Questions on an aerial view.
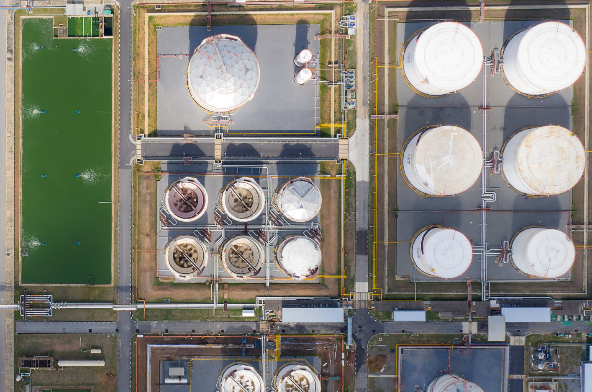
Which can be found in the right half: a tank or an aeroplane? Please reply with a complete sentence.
It is a tank that can be seen in the right half.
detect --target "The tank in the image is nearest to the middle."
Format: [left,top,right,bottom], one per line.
[269,174,322,225]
